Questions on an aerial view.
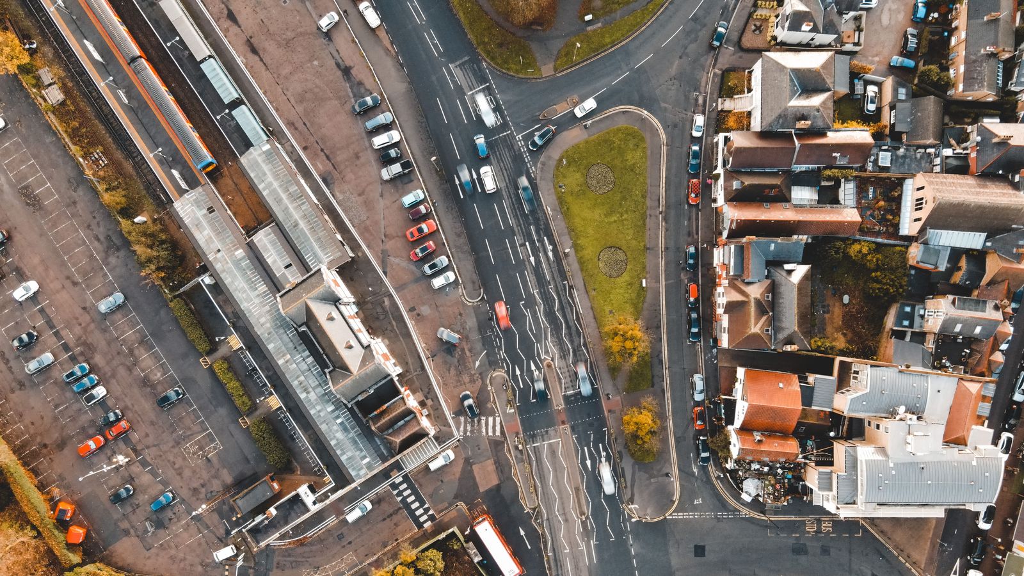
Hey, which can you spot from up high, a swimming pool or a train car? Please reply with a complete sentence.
The image shows a train car.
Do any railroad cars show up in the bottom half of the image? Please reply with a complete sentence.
No, I can find no railroad car in the bottom half of the image.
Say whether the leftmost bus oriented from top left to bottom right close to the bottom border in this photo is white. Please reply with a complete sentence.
Yes, white is the color of the leftmost bus oriented from top left to bottom right close to the bottom border.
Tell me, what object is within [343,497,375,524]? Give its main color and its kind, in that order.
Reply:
white vehicle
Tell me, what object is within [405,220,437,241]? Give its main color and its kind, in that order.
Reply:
red car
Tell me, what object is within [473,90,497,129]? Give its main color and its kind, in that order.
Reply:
white vehicle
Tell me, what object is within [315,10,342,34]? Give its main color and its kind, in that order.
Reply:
white car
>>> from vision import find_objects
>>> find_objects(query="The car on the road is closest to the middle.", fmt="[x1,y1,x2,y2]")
[495,301,510,328]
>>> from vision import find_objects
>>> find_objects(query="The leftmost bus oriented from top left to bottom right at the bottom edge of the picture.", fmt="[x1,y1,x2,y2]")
[465,513,521,576]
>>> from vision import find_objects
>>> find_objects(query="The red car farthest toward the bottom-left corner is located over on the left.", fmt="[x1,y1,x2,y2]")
[77,436,106,456]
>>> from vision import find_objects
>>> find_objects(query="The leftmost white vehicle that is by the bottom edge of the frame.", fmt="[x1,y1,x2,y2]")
[208,541,241,565]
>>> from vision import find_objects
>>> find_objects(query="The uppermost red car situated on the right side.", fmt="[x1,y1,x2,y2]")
[687,177,701,204]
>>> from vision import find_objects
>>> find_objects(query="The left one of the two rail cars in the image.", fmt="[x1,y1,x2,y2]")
[90,0,152,62]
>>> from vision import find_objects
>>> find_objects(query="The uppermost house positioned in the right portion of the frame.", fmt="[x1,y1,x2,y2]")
[766,0,861,44]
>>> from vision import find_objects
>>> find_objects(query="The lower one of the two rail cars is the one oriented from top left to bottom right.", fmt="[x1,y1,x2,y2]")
[132,54,222,170]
